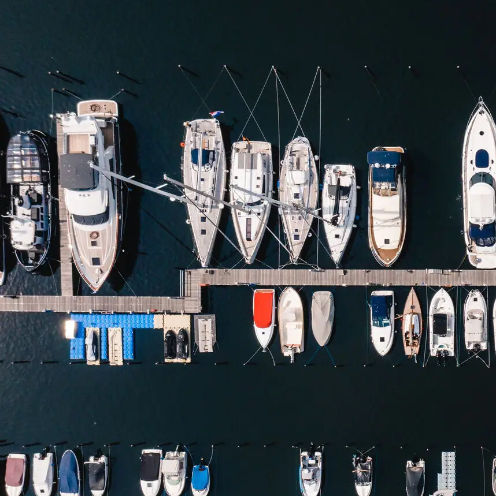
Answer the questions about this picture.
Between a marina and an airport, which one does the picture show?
marina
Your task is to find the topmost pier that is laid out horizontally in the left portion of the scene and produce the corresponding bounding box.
[0,270,206,313]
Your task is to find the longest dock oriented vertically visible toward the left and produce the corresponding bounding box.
[60,117,80,296]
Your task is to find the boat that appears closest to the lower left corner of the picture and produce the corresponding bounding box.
[4,454,30,496]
